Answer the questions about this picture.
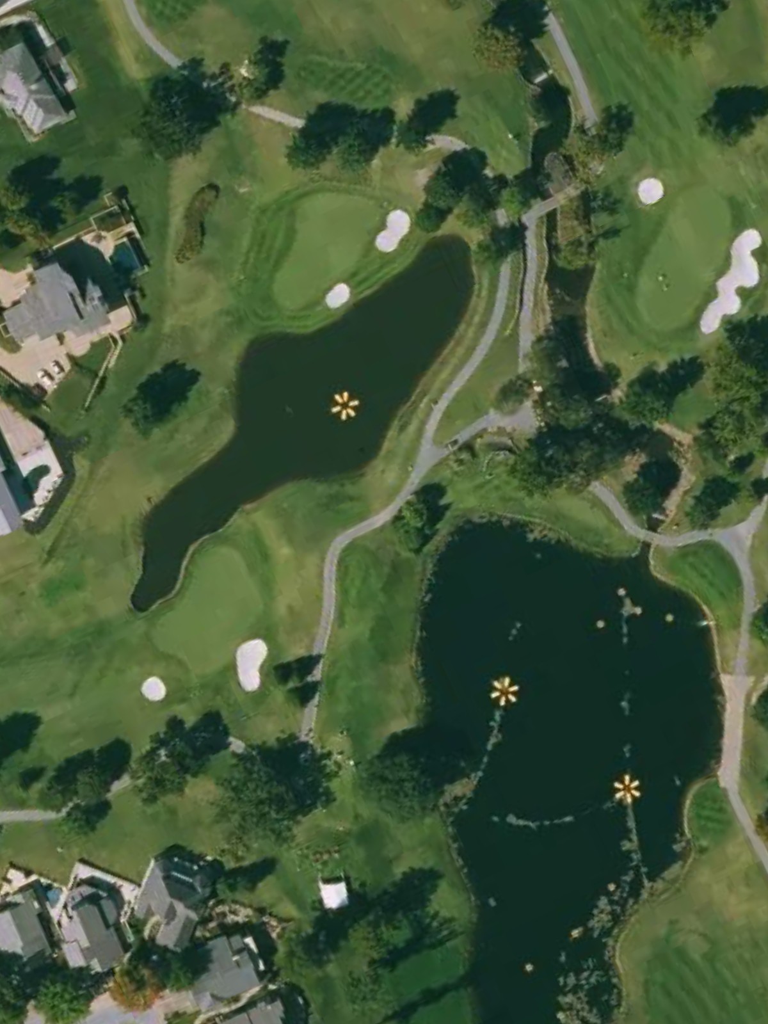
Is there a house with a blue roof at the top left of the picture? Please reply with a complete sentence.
No, no house with a blue roof appears at the top left of the picture.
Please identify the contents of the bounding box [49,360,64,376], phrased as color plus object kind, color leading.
white car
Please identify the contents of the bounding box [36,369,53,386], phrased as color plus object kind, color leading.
white car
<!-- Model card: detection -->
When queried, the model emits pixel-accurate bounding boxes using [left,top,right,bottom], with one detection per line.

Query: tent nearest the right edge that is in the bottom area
[319,873,348,905]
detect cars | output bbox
[49,360,64,376]
[36,369,53,386]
